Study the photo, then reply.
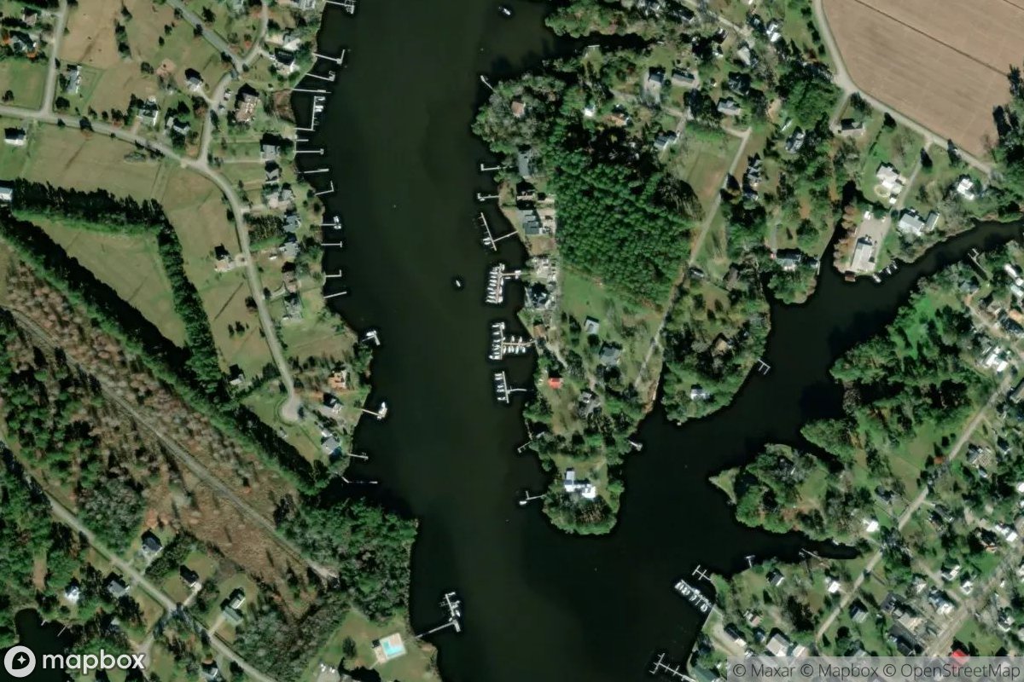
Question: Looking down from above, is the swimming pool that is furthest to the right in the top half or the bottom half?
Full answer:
The swimming pool that is furthest to the right is in the bottom half of the image.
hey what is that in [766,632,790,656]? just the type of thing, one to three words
building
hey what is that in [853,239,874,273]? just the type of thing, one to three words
building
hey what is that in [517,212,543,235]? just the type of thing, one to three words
house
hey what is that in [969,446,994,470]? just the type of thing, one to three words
house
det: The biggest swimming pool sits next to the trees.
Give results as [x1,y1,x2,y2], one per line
[377,633,406,660]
